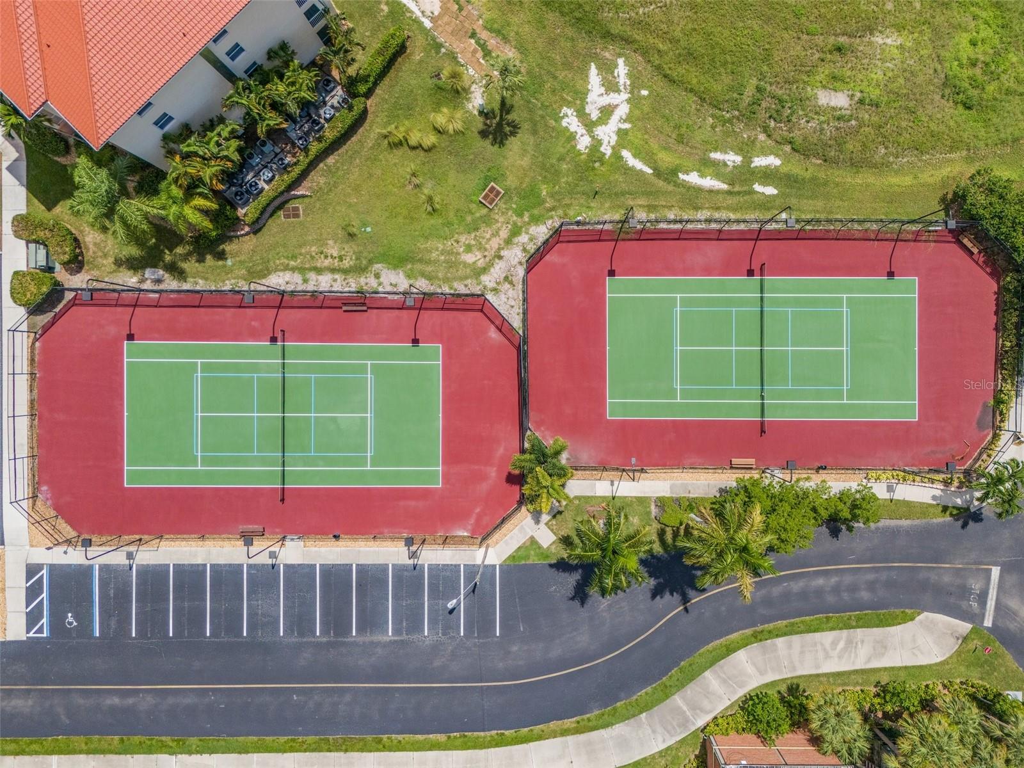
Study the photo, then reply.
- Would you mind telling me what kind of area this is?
sports ground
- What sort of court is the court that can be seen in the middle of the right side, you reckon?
tennis court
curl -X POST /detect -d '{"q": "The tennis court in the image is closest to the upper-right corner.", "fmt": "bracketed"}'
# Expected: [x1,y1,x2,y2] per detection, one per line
[527,230,998,467]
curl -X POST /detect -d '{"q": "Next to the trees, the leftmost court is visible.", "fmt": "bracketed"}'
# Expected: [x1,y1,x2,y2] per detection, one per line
[36,294,520,536]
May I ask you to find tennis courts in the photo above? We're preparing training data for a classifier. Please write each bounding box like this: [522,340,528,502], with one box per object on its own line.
[36,294,520,536]
[527,230,998,467]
